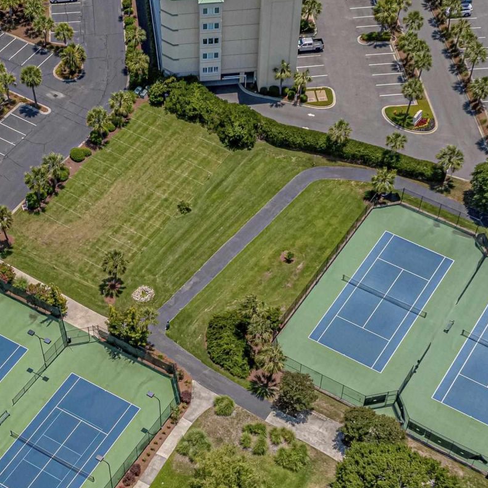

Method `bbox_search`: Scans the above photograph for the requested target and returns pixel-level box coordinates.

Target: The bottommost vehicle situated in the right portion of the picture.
[299,38,326,54]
